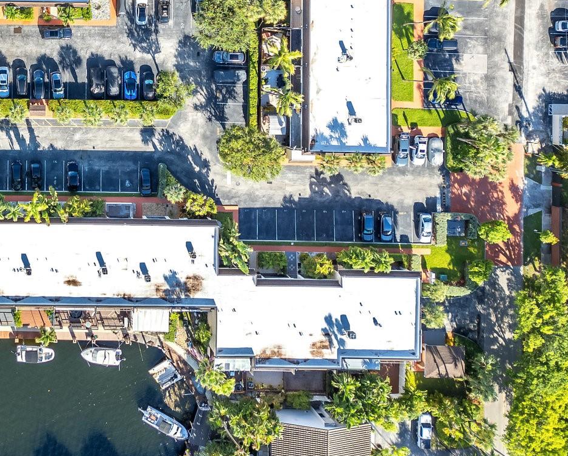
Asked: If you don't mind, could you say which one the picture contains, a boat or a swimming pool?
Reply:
boat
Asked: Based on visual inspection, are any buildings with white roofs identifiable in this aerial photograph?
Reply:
Yes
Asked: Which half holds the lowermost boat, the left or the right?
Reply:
left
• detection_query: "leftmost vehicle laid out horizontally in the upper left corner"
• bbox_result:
[42,26,72,41]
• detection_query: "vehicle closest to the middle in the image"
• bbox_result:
[359,211,377,242]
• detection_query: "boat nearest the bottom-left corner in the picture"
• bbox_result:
[14,346,56,363]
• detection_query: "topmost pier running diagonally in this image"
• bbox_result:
[129,333,210,407]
